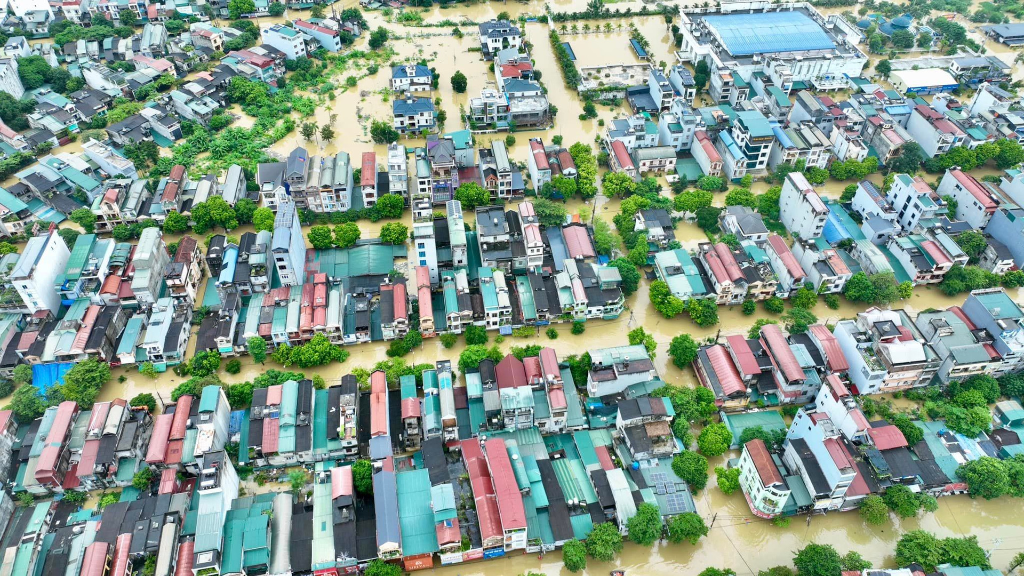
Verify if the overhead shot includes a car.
No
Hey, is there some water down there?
Yes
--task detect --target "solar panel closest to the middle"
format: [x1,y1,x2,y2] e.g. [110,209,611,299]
[448,201,463,225]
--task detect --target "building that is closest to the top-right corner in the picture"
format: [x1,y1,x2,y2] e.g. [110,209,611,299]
[981,23,1024,51]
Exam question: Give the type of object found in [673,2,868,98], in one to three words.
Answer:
building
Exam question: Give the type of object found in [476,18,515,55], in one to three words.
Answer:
house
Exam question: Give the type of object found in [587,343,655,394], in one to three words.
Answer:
house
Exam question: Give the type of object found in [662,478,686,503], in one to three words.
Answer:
solar panel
